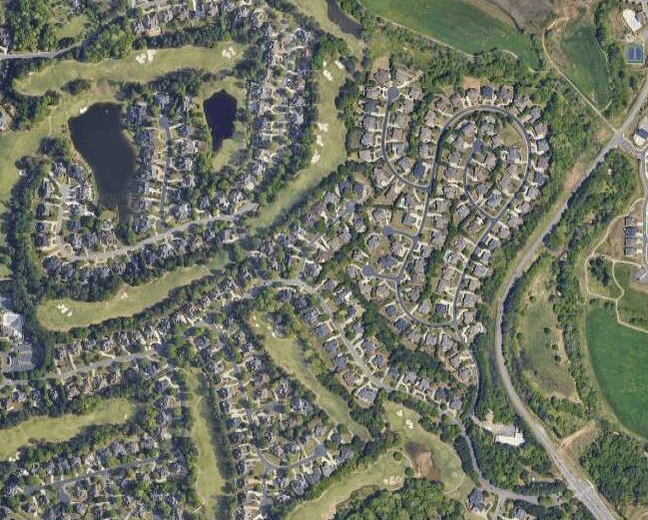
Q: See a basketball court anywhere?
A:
No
